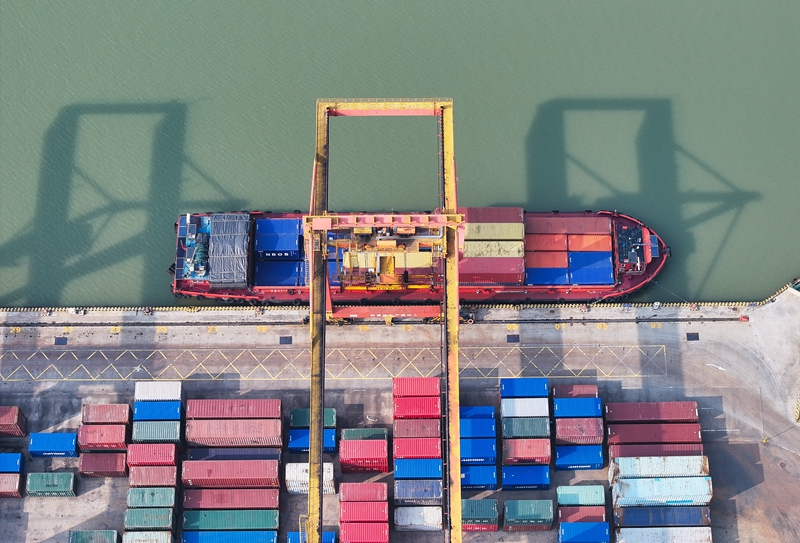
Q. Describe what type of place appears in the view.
port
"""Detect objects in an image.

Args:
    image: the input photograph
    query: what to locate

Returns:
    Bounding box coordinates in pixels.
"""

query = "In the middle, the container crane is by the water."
[300,97,473,543]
